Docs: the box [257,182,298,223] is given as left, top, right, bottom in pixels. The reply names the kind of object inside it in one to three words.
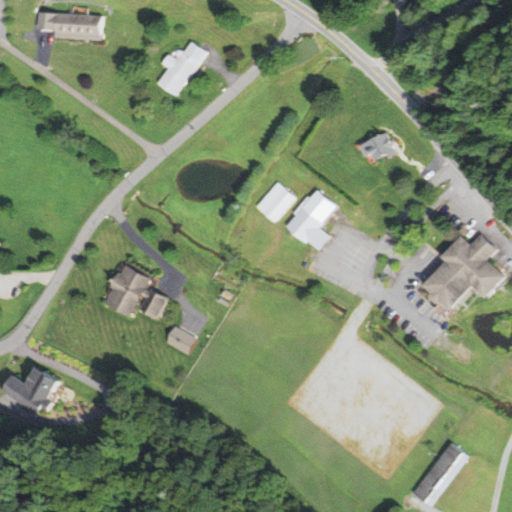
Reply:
shed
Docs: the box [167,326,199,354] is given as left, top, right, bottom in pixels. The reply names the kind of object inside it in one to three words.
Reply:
shed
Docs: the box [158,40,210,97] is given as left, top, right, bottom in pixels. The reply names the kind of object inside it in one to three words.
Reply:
house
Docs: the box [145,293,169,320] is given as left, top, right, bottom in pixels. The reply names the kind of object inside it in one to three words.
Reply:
building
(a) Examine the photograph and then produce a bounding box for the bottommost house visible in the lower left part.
[3,368,63,412]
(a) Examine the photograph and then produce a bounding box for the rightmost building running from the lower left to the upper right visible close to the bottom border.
[413,442,470,506]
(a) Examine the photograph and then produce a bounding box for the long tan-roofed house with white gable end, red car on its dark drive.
[38,6,107,40]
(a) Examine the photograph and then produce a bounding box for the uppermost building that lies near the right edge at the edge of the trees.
[423,234,508,310]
